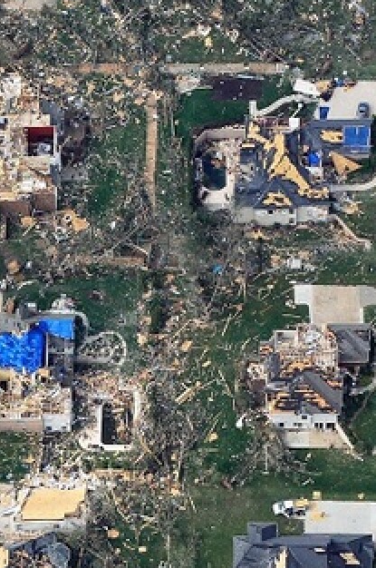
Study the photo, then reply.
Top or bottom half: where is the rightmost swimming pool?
top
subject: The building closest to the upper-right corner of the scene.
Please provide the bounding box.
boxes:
[190,117,371,226]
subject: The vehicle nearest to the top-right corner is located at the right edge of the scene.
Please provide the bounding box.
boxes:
[358,98,370,119]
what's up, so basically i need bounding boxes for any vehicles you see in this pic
[358,98,370,119]
[273,499,309,516]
